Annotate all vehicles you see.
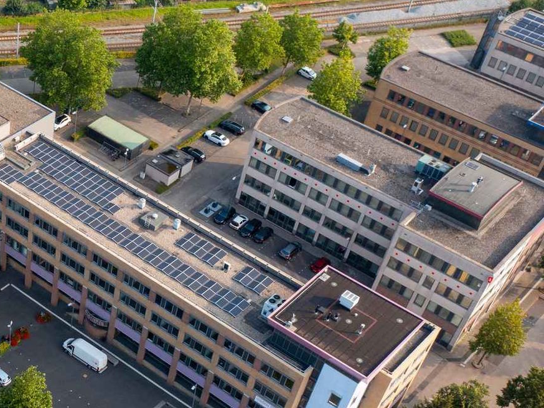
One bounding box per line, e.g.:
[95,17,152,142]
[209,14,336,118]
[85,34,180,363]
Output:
[214,205,237,223]
[251,97,271,111]
[219,117,245,134]
[64,336,109,369]
[205,130,231,145]
[279,240,304,258]
[182,141,207,160]
[252,224,277,243]
[0,367,9,386]
[53,111,72,127]
[229,212,252,229]
[239,217,263,236]
[311,255,334,272]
